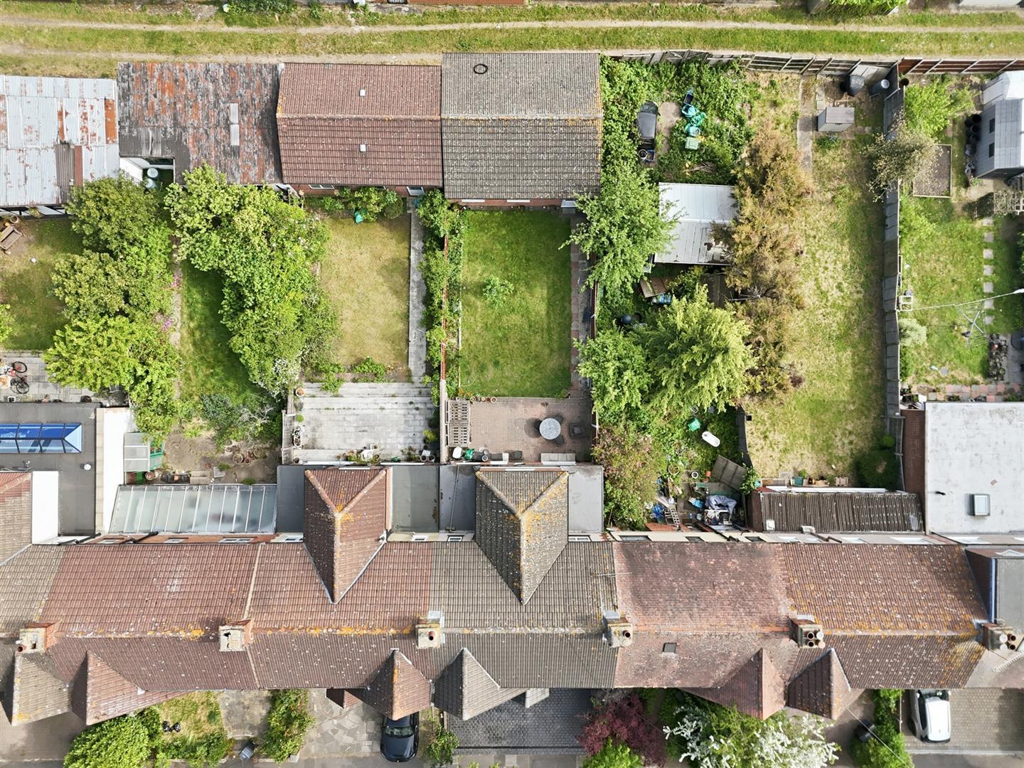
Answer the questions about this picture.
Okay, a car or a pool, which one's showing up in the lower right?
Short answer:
car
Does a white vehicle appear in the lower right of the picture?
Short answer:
Yes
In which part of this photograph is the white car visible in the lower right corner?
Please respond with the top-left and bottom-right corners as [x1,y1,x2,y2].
[909,691,951,740]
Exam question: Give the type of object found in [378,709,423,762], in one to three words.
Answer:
car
